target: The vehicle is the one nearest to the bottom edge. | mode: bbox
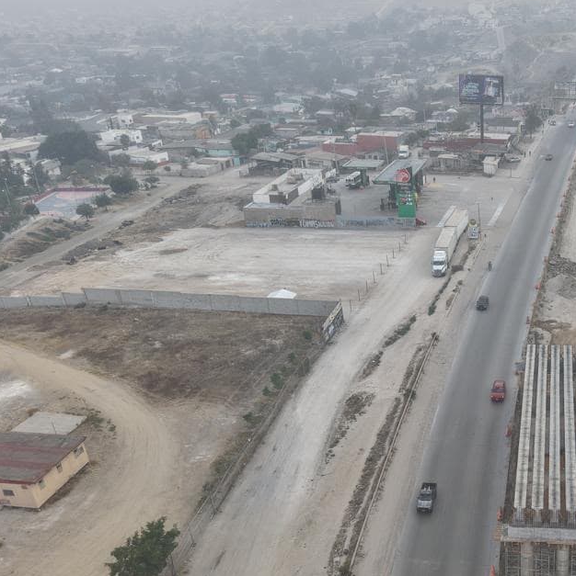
[413,474,438,510]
